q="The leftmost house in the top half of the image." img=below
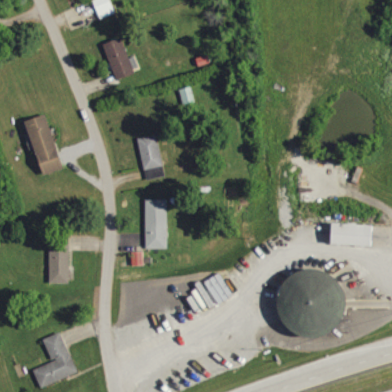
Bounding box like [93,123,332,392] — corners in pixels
[24,114,62,174]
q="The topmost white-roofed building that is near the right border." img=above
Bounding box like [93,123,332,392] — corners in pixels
[330,223,374,247]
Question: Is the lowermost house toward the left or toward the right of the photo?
left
